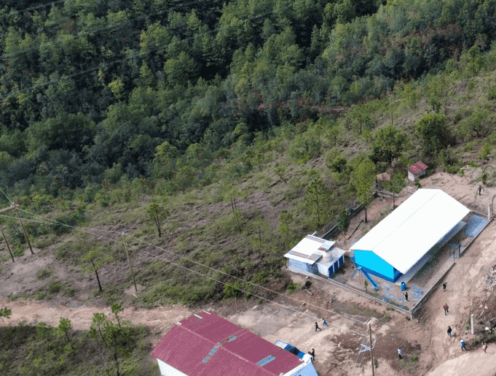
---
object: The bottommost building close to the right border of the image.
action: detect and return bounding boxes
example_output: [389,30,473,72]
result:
[345,189,474,293]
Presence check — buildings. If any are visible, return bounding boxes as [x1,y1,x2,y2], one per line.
[407,162,428,181]
[345,189,474,293]
[287,228,336,271]
[151,311,321,376]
